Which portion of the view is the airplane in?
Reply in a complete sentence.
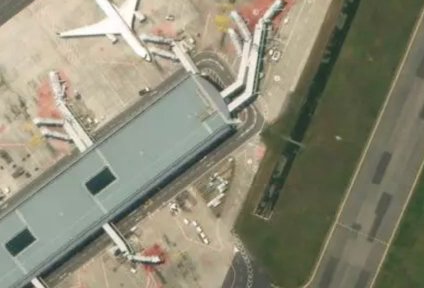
The airplane is in the top left part of the image.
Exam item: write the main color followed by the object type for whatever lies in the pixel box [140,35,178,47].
white jet bridge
